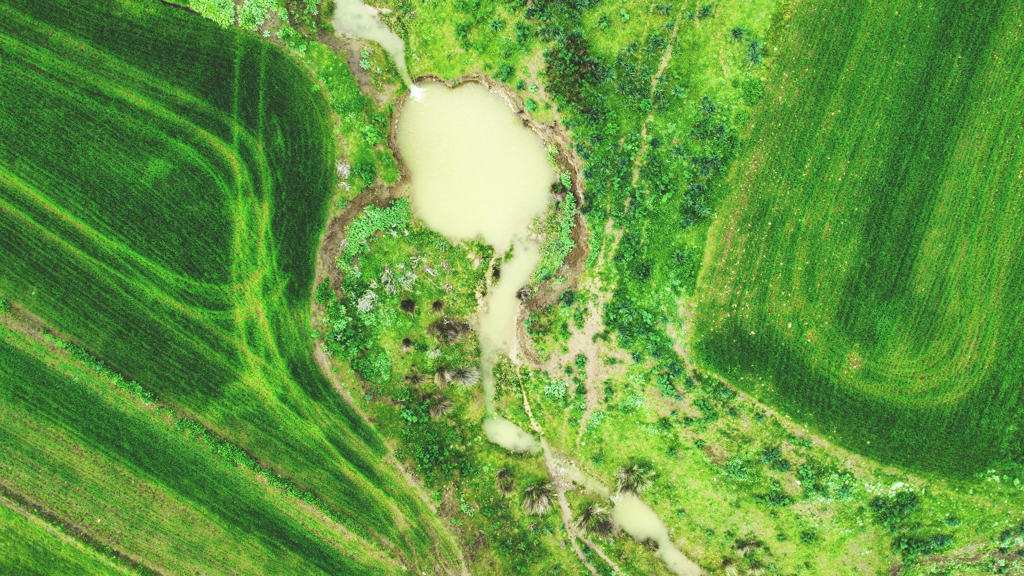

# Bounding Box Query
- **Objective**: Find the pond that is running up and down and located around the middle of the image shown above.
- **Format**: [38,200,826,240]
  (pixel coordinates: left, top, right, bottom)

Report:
[396,80,555,421]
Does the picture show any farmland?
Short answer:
Yes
